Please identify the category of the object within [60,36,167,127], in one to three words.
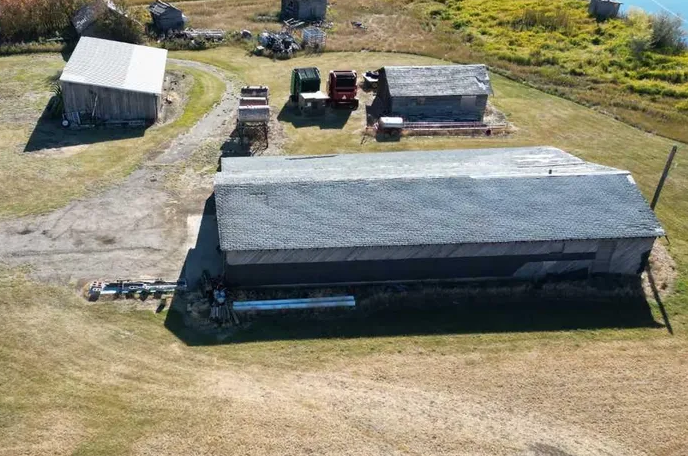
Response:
shed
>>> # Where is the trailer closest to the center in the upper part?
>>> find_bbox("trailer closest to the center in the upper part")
[356,112,408,138]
